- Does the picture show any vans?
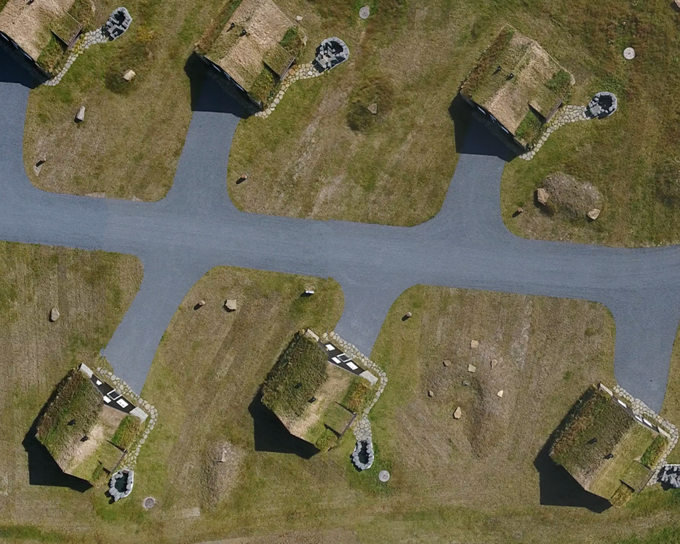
No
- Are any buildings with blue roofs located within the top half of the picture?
No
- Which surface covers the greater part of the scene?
grass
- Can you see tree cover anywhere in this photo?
No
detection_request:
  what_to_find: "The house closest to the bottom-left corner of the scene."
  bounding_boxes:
[32,359,151,490]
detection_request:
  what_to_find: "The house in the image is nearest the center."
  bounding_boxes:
[258,324,378,455]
